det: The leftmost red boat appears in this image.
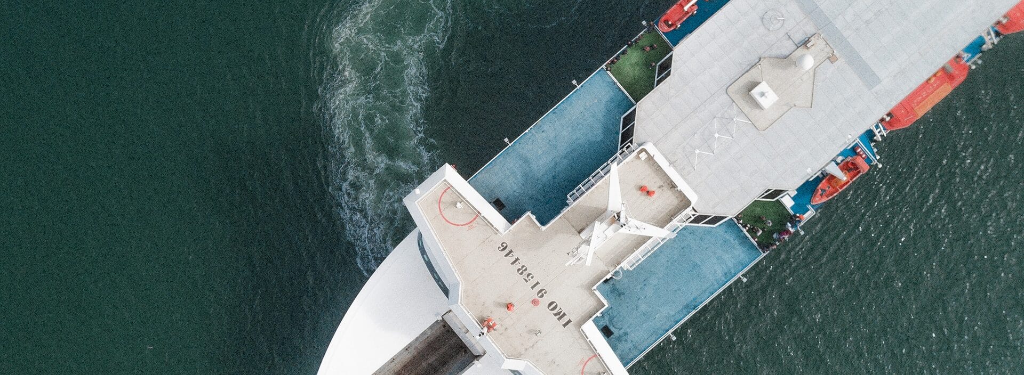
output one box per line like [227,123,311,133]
[658,0,703,33]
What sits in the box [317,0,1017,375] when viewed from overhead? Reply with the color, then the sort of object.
white ship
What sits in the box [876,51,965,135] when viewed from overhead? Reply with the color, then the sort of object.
red boat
